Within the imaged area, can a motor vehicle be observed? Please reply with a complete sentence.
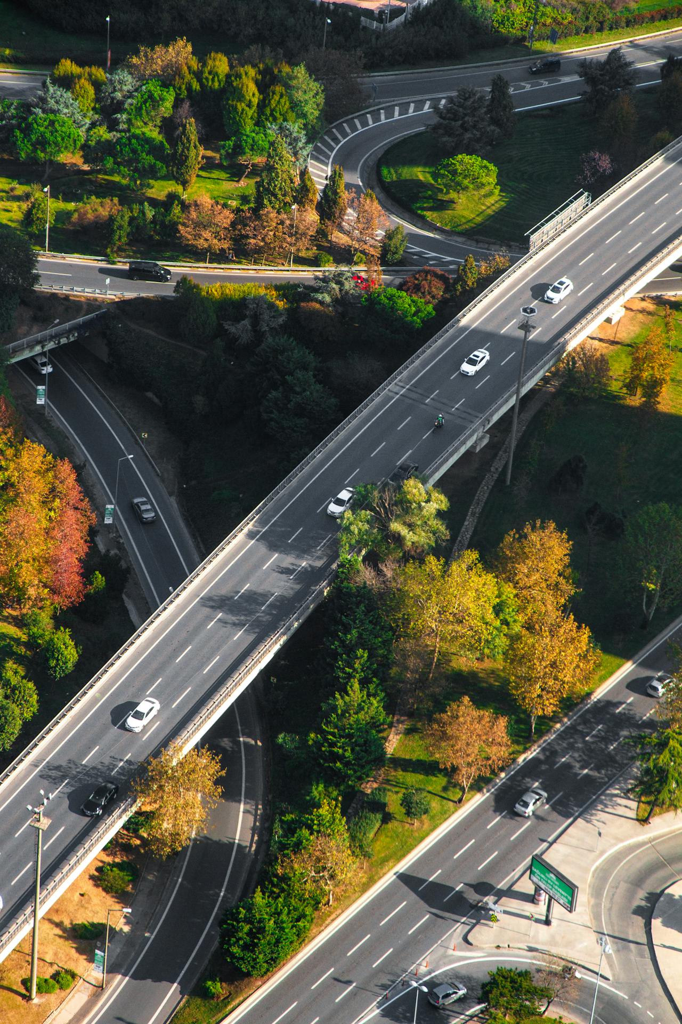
Yes, there is a motor vehicle in the image.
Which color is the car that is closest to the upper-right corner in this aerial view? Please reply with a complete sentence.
The car that is closest to the upper-right corner is black.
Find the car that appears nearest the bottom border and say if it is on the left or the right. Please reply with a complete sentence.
You can find the car that appears nearest the bottom border on the right side of the picture.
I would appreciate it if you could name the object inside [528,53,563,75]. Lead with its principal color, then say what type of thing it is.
black car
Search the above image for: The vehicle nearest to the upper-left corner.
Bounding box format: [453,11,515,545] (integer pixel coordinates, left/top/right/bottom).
[128,260,171,284]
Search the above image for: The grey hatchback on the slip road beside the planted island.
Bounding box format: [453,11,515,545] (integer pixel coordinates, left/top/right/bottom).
[428,982,469,1010]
